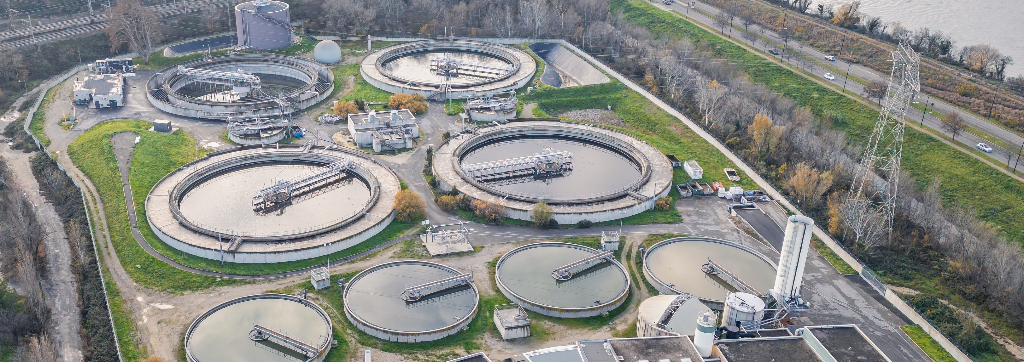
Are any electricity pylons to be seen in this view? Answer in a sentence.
Yes, the picture does show an electricity pylon.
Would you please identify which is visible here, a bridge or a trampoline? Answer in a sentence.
Of the two, only a bridge appears.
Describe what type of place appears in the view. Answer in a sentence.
This looks like an industrial area.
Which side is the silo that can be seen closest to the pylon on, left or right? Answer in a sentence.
You can find the silo that can be seen closest to the pylon on the right side of the picture.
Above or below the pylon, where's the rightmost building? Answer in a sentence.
As seen from overhead, the rightmost building falls below the pylon in the picture.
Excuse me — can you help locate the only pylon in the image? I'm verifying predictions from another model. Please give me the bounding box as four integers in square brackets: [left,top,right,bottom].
[846,34,922,247]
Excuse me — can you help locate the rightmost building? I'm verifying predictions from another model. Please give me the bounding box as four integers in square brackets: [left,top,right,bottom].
[803,325,892,362]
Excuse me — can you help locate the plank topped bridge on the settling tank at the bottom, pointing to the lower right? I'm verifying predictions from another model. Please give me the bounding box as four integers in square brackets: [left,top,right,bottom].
[247,319,318,356]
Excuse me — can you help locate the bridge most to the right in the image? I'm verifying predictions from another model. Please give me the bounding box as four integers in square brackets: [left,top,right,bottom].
[697,258,759,296]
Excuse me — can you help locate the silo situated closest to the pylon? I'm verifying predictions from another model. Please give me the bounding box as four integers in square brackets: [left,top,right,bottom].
[769,215,820,326]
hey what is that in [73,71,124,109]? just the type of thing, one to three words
building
